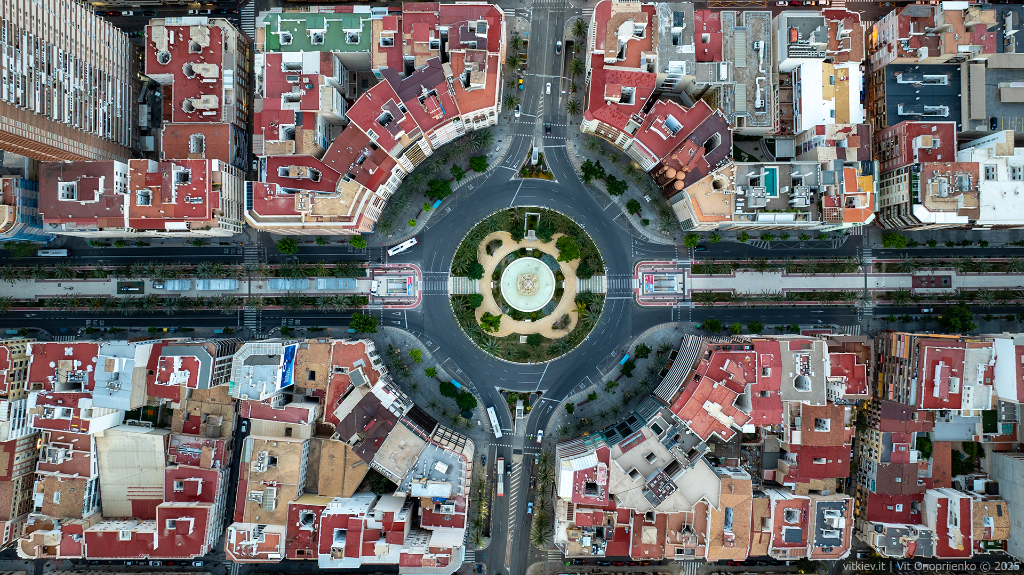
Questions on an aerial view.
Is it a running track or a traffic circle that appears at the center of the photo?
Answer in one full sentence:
Looking at the center of the photo, you will find a traffic circle.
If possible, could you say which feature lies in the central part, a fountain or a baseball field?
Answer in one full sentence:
Visible in the central part is a fountain.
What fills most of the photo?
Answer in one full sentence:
The bulk of the photo consists of buildings.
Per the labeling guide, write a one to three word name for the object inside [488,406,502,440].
vehicle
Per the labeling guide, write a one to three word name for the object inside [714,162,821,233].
building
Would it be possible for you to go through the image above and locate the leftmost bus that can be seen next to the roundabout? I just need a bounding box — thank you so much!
[386,237,418,257]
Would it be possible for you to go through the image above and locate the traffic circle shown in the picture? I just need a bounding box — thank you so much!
[423,122,634,449]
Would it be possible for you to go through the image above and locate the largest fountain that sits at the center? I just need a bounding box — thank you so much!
[501,257,555,311]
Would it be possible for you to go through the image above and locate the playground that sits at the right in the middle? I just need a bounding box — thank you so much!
[912,275,952,288]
